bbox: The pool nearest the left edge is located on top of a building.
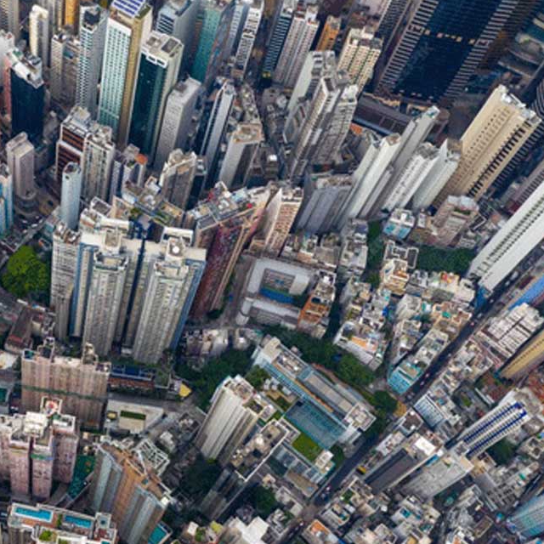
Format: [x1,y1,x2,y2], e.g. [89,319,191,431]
[11,503,46,518]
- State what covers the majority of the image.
buildings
